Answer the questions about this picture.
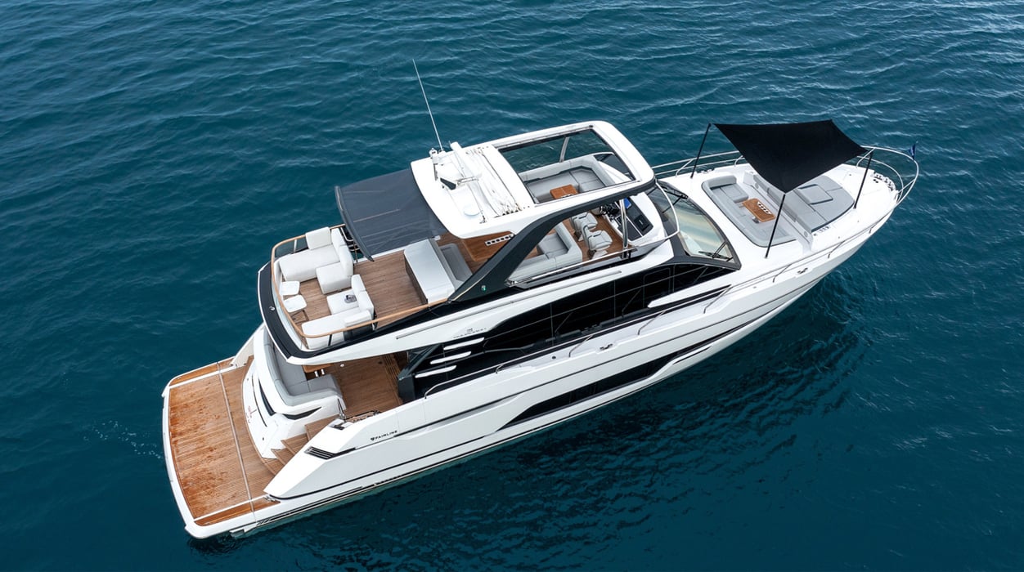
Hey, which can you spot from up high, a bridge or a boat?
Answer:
boat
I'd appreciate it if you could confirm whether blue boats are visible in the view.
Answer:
No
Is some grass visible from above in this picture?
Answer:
No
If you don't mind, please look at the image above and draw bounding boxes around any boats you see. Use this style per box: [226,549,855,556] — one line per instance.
[162,59,919,539]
